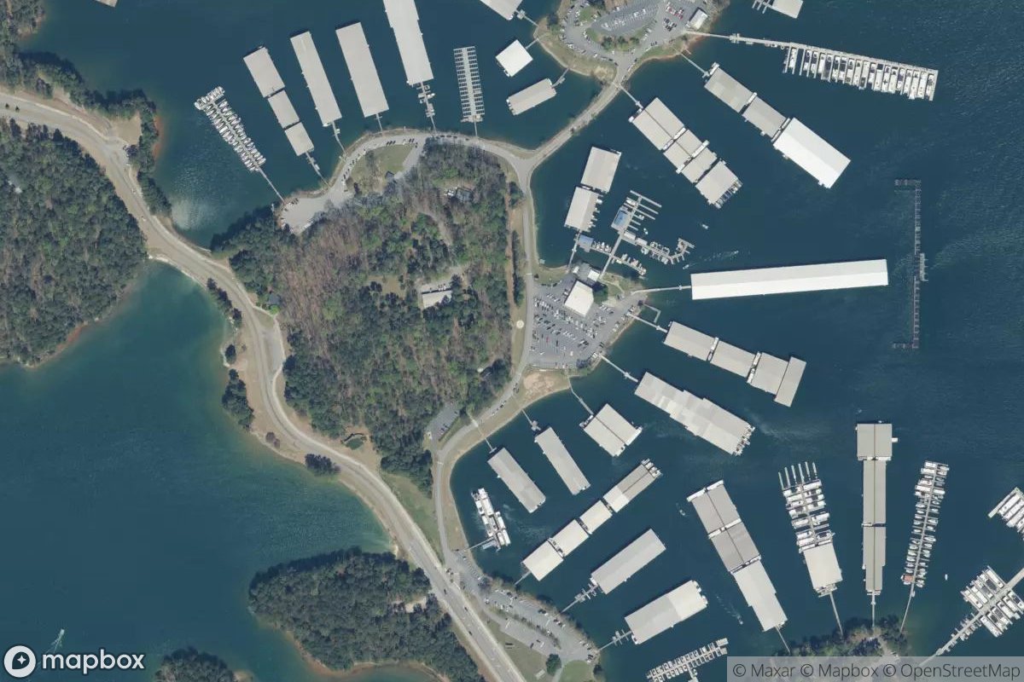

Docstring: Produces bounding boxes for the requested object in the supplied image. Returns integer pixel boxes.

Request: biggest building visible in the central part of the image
[565,281,594,316]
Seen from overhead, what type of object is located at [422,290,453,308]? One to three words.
building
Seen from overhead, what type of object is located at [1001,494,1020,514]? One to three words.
boat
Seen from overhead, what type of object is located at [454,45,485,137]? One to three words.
pier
